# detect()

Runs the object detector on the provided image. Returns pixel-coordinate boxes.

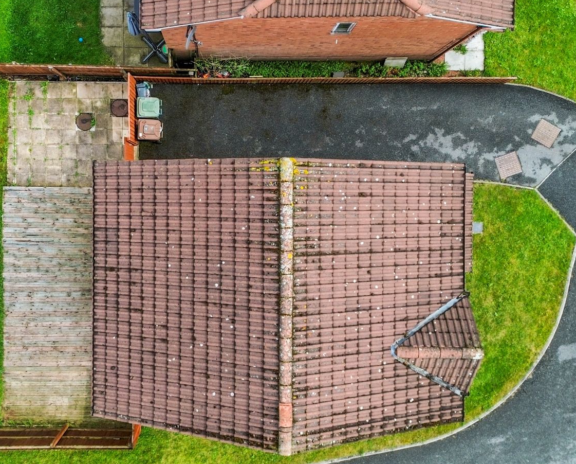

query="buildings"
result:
[138,0,517,64]
[89,154,486,453]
